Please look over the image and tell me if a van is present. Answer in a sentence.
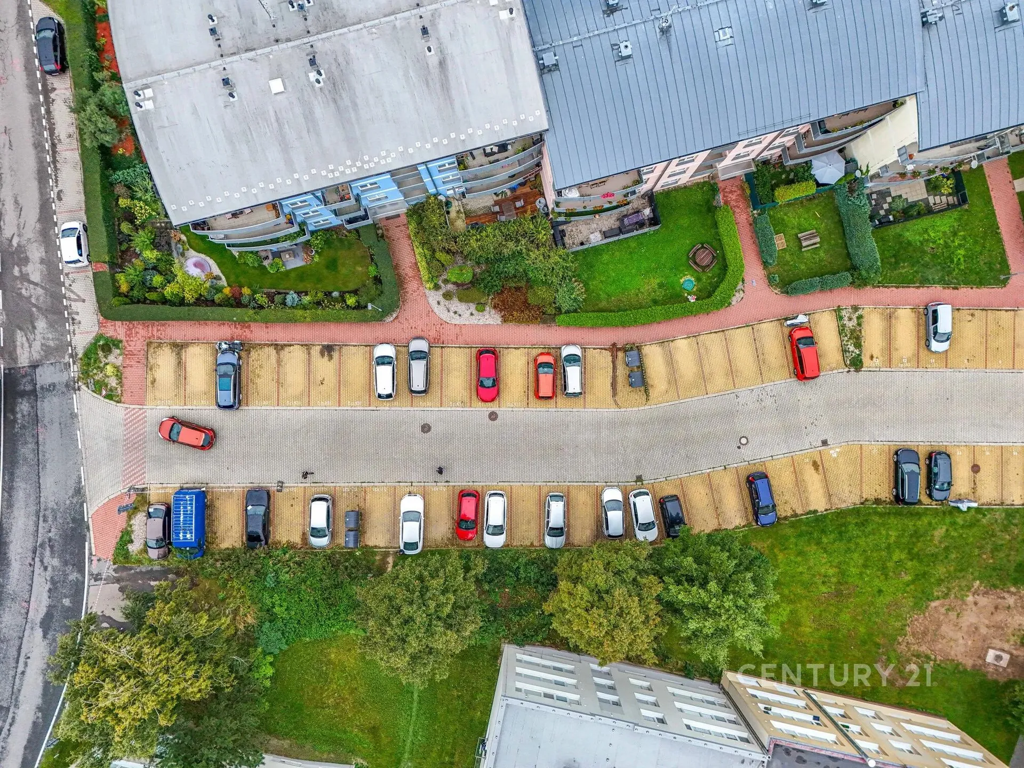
Yes, looking at the shot, I can spot a van.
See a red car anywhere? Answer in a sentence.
Yes, looking at the shot, I can spot a red car.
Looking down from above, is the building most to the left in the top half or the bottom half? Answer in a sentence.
Seen from above, the building most to the left lies in the top half of the view.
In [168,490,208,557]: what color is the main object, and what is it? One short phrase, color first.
blue van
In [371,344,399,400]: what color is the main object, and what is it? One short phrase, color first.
white car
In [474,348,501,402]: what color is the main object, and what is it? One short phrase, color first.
red car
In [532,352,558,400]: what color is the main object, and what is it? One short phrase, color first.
red car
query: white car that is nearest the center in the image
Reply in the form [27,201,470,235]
[558,345,586,398]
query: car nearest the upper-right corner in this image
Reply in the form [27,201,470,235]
[921,304,953,353]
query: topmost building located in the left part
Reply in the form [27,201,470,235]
[114,0,548,250]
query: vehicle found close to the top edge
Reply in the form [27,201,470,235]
[34,20,68,78]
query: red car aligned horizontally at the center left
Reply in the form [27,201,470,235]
[160,416,218,450]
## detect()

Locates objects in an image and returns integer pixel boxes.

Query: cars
[306,494,335,547]
[532,352,558,400]
[59,221,92,269]
[558,345,586,398]
[474,348,501,402]
[888,447,922,506]
[785,326,821,382]
[160,416,218,450]
[628,488,659,541]
[542,492,570,548]
[213,349,245,406]
[454,488,481,540]
[921,451,955,501]
[921,304,953,353]
[599,486,627,540]
[242,489,273,549]
[657,491,689,541]
[34,20,68,78]
[744,471,777,526]
[404,338,432,395]
[481,490,509,547]
[371,344,399,400]
[143,503,174,559]
[397,492,426,554]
